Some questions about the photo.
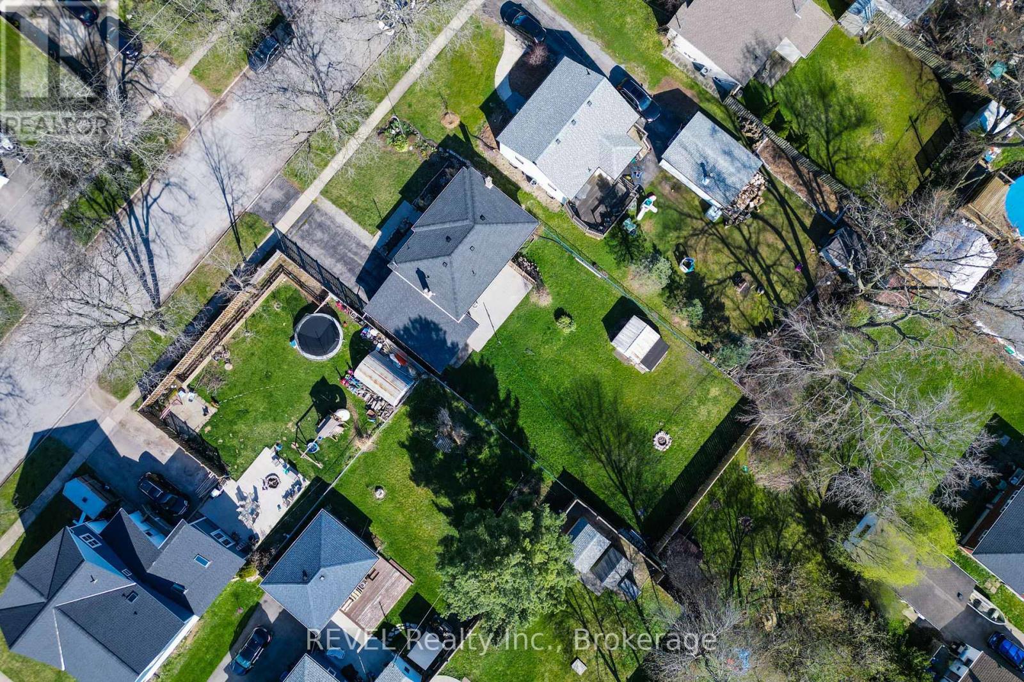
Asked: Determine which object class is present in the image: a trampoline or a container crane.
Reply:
trampoline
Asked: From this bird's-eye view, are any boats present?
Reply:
Yes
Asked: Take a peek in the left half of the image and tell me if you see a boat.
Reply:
No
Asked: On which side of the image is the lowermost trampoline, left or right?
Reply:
left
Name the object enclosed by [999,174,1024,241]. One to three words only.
swimming pool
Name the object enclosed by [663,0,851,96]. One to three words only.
house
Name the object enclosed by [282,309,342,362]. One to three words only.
trampoline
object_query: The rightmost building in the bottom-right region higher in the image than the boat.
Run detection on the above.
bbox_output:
[951,485,1024,602]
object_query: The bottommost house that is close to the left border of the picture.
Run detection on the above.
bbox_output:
[0,504,254,682]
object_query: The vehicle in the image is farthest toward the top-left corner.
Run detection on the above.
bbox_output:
[55,0,97,28]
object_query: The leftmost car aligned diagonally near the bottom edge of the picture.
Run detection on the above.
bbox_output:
[223,622,274,682]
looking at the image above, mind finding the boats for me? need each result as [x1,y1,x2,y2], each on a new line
[967,591,1020,636]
